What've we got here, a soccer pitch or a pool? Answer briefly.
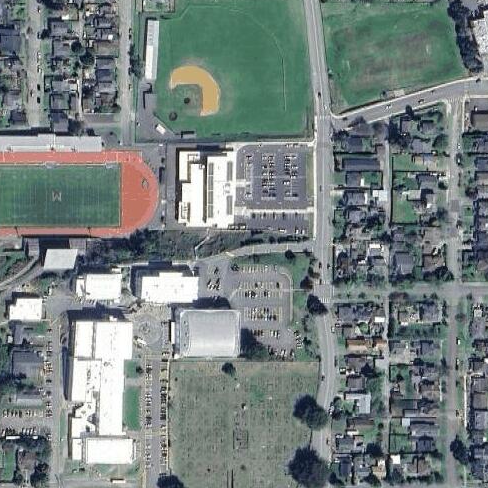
soccer pitch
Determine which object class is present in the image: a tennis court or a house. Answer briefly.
house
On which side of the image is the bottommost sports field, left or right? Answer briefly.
left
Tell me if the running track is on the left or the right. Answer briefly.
left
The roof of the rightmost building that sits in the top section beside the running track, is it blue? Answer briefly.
No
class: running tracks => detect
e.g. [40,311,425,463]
[0,150,159,237]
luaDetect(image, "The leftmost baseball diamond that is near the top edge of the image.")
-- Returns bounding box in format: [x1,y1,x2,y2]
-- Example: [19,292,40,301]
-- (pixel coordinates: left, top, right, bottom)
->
[154,0,315,140]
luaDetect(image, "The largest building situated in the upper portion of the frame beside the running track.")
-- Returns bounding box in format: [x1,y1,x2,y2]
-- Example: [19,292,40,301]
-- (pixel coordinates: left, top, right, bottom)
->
[178,151,235,228]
